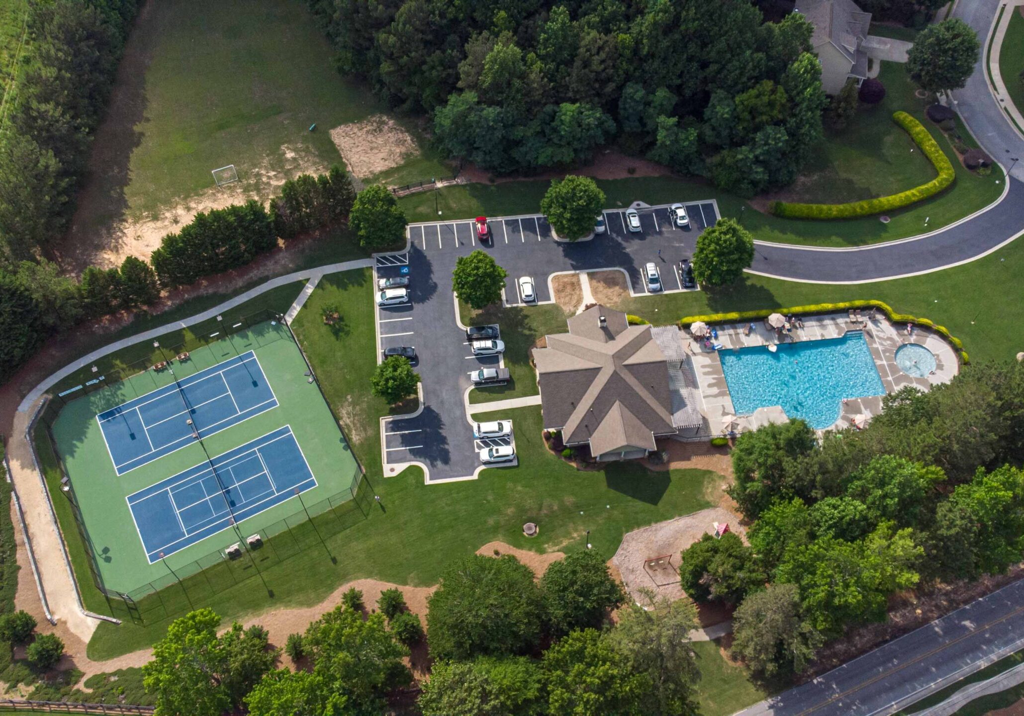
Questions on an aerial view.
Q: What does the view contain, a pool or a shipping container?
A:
pool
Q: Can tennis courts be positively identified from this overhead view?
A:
Yes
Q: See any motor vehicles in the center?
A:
Yes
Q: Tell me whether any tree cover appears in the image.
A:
Yes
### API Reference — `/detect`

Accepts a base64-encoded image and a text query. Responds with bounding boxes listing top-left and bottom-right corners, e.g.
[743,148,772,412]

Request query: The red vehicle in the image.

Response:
[475,217,490,241]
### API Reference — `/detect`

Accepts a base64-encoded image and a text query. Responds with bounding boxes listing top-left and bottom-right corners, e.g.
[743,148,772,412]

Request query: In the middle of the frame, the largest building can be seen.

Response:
[532,304,678,464]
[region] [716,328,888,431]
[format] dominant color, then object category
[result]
blue swimming pool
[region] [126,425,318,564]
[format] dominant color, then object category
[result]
blue tennis court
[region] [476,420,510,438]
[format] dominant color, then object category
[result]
white car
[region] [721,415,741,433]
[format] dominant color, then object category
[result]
white umbrella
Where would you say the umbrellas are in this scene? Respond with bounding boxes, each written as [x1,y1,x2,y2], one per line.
[690,323,709,341]
[768,316,787,333]
[721,415,741,433]
[855,409,875,428]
